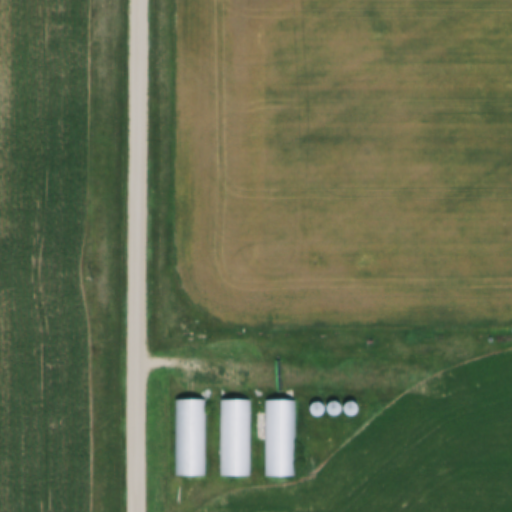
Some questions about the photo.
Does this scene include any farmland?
Yes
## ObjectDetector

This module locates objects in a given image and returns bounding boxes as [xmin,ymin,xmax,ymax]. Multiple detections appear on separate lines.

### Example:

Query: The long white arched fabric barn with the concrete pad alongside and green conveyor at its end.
[266,400,296,478]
